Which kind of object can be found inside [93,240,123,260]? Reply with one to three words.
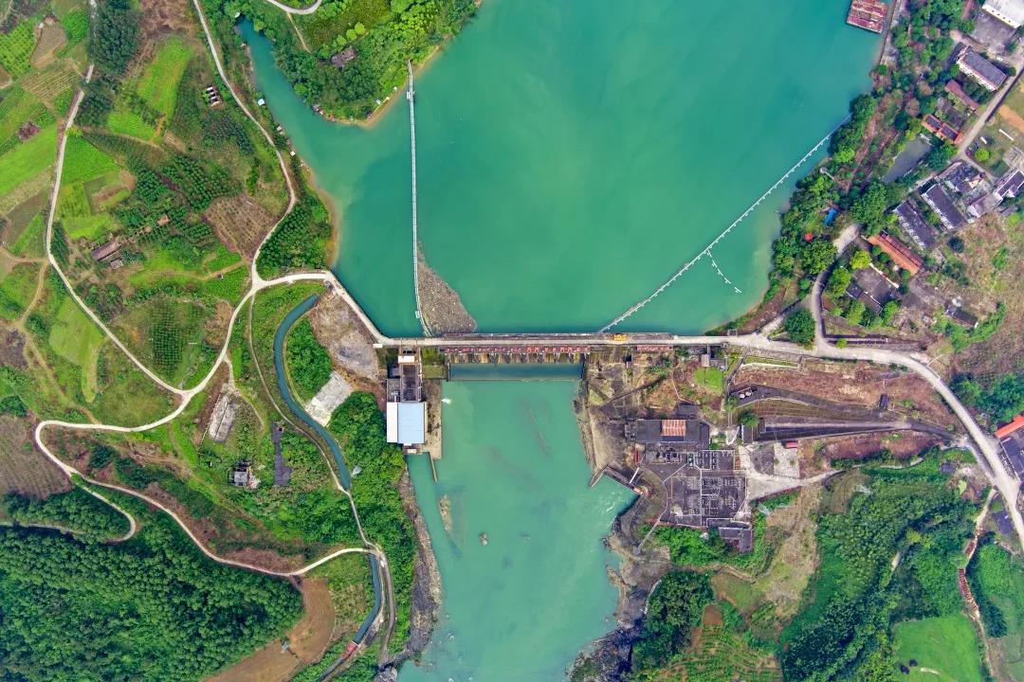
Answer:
shed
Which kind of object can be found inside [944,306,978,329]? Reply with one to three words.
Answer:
house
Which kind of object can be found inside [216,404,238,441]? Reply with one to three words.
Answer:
barn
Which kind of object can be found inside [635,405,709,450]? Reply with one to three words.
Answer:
building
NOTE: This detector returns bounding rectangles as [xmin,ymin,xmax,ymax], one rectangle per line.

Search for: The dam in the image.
[324,272,675,382]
